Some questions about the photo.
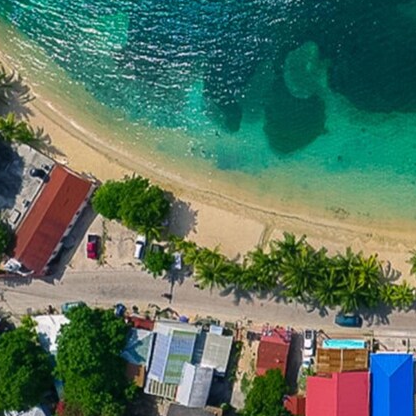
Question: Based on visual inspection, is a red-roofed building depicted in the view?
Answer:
Yes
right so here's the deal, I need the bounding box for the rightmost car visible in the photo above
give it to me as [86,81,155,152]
[335,312,363,327]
